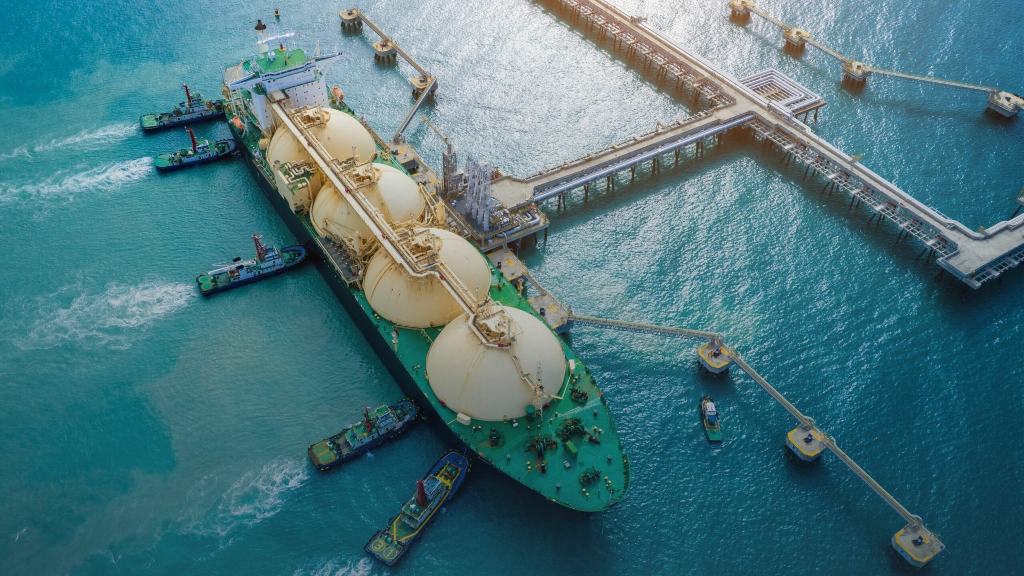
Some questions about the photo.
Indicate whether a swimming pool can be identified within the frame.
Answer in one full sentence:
No, I can see no swimming pool in this picture.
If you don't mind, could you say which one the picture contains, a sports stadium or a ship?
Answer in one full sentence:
It is a ship that can be seen here.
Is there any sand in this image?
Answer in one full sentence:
No, there is no sand in the image.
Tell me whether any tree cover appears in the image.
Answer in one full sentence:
No, there's no tree cover in this view.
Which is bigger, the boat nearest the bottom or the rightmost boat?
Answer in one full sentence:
It is the boat nearest the bottom that is larger, not the rightmost boat.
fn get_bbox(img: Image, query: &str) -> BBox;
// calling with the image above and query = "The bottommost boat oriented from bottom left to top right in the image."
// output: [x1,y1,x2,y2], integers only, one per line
[363,449,467,569]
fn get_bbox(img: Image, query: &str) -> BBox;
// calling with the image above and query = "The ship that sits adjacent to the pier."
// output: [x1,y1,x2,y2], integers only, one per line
[219,18,629,525]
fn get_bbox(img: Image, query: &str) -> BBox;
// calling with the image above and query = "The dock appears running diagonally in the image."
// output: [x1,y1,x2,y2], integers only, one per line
[556,0,1024,300]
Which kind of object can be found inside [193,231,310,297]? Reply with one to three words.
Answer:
boat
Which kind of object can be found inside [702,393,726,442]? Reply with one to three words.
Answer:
boat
